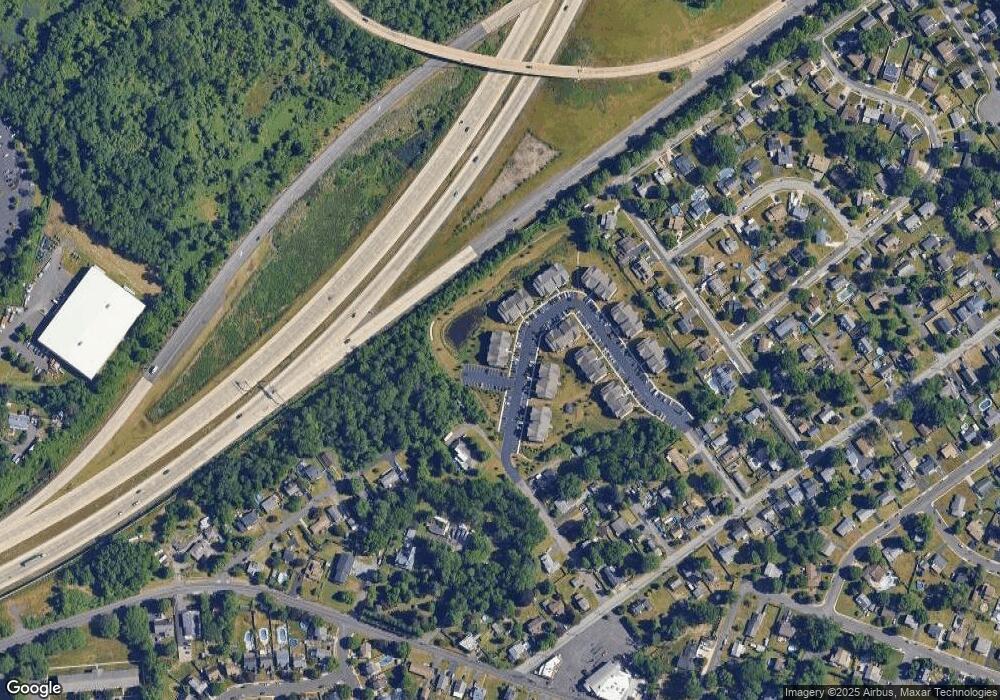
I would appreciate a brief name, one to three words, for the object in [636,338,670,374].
building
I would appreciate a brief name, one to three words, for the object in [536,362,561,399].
building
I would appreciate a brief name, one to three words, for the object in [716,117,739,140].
house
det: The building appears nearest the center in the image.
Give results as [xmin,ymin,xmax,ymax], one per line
[487,332,513,366]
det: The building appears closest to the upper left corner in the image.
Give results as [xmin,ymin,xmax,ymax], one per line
[37,266,146,380]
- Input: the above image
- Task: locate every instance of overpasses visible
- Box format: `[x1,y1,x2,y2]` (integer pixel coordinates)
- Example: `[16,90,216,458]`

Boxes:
[329,0,794,78]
